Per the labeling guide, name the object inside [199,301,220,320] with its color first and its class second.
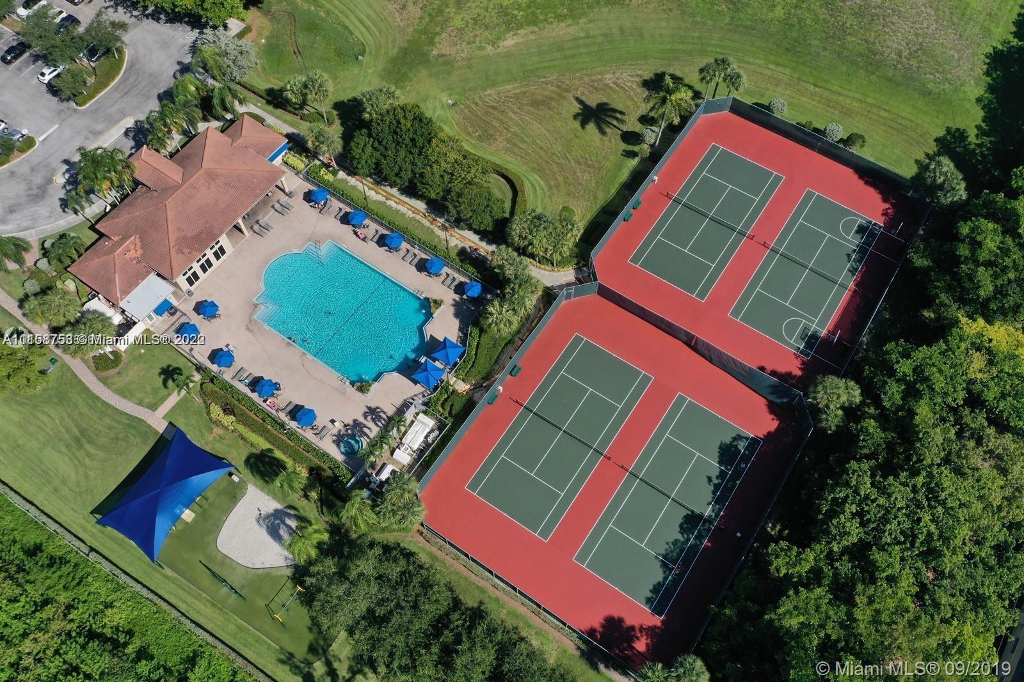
blue umbrella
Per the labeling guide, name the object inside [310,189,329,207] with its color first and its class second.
blue umbrella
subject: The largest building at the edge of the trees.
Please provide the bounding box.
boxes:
[67,113,294,329]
